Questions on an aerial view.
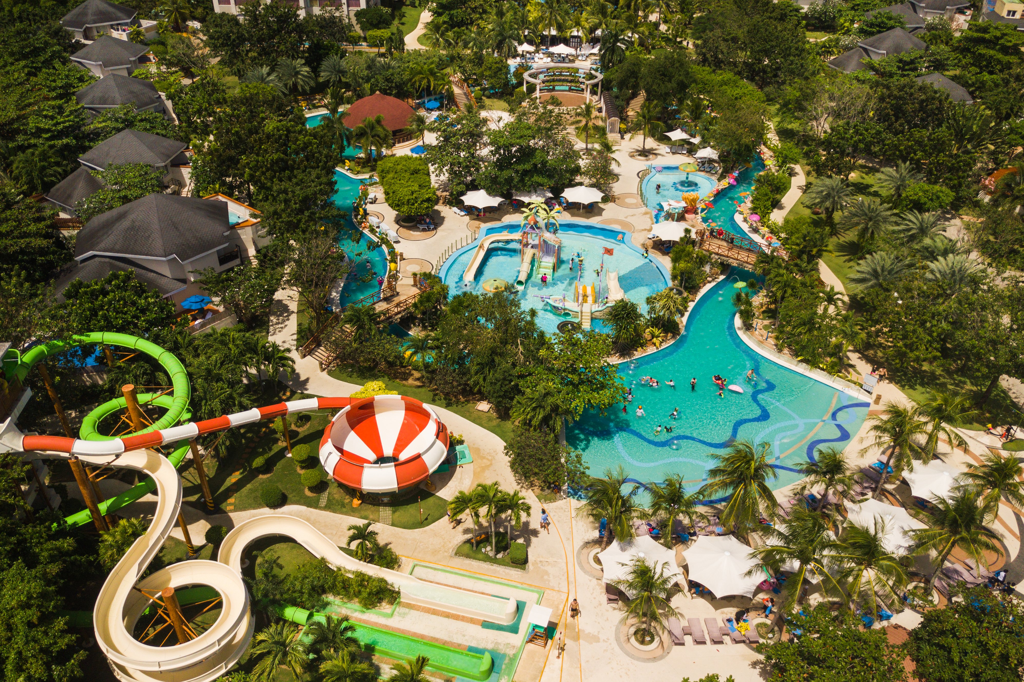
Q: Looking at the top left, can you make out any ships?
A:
No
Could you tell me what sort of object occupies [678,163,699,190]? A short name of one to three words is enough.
fountain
